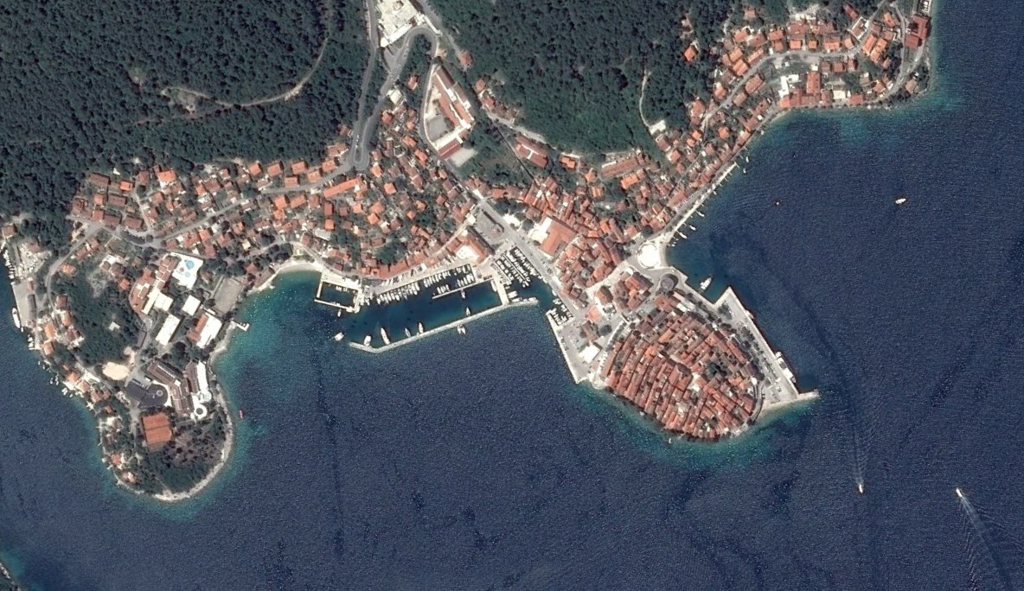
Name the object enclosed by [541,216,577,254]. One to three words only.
building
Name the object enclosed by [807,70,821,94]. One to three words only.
house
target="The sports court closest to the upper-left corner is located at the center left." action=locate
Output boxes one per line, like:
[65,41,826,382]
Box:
[213,278,241,312]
